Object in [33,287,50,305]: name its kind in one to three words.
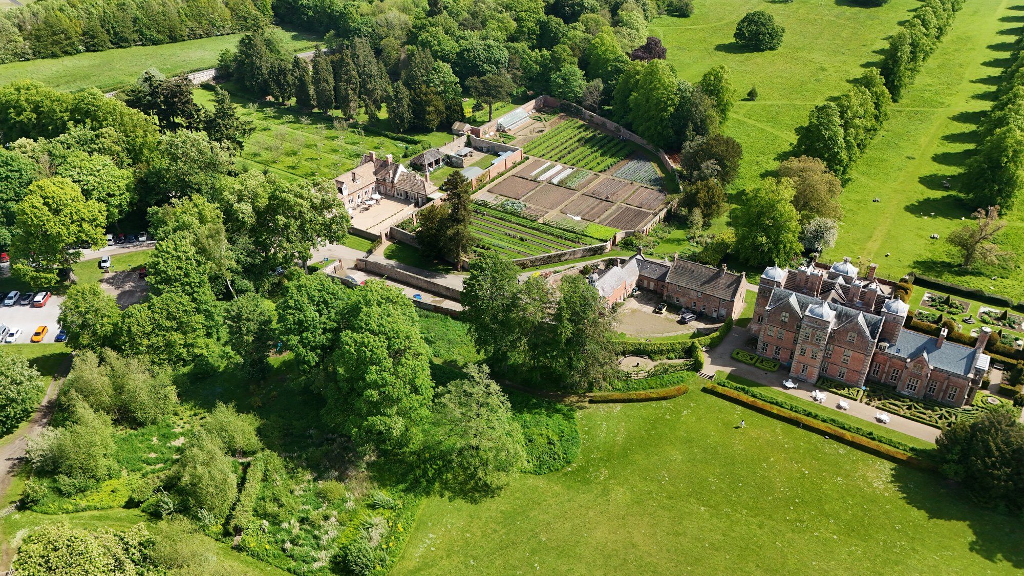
vehicle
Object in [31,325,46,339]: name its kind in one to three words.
car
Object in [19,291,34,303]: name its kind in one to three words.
vehicle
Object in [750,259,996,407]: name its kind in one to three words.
house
